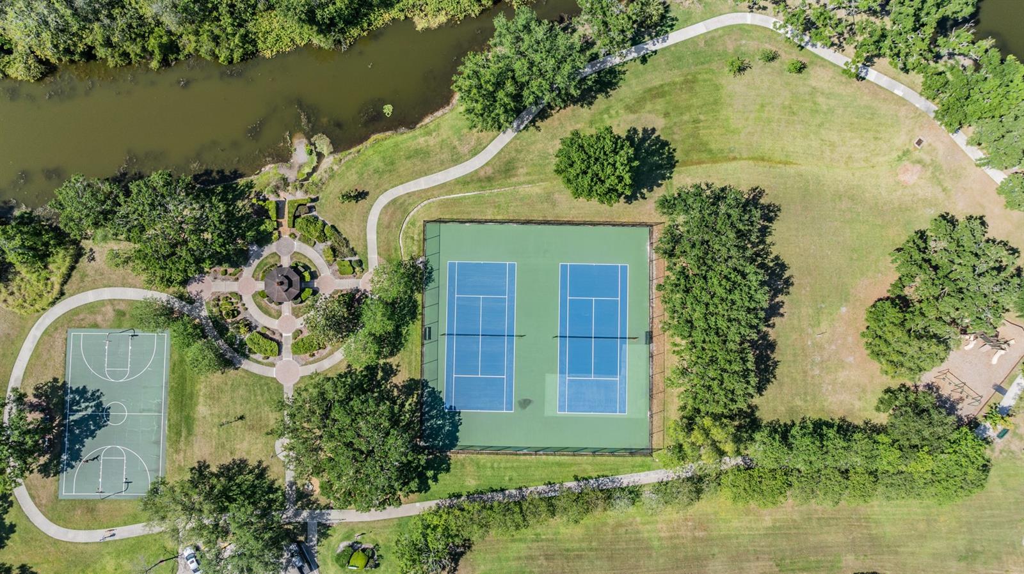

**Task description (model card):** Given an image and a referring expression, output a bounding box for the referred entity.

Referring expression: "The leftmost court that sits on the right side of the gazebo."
[444,261,516,412]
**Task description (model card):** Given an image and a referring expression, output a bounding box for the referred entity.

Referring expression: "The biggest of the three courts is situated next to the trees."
[59,329,170,500]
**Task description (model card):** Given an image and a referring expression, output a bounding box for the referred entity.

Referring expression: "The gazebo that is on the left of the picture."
[266,267,304,301]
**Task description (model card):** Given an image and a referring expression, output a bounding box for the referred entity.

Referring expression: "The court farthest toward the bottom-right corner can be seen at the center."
[555,263,636,415]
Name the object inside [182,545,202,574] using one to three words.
car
